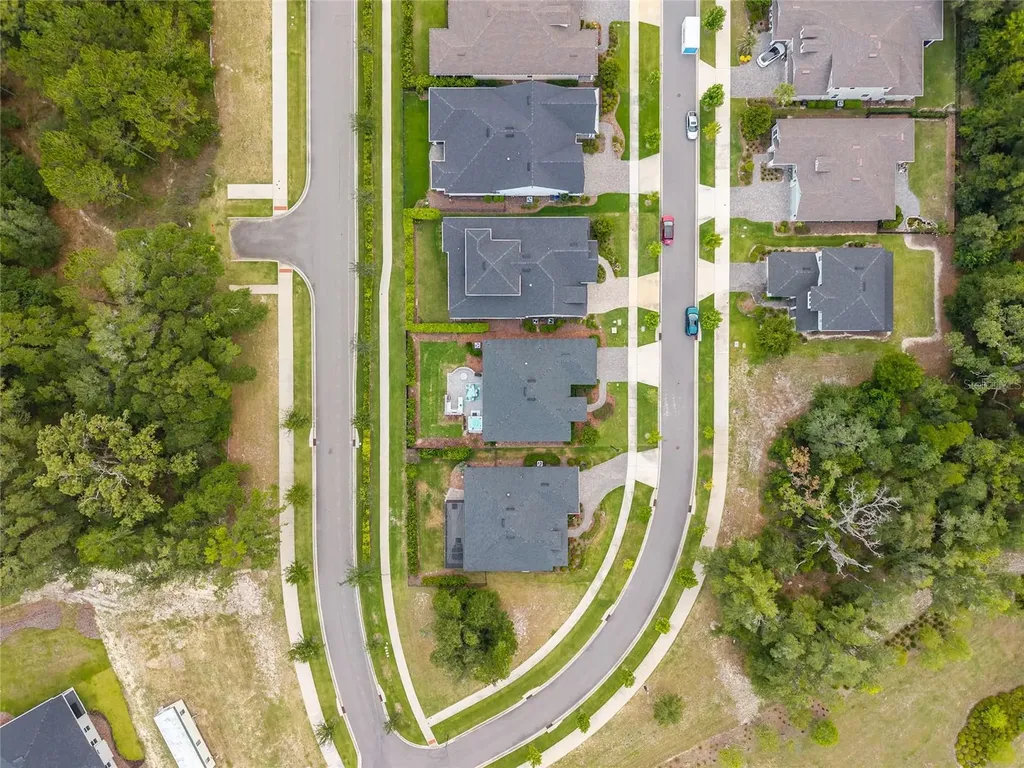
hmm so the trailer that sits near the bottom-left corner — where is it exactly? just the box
[153,700,214,768]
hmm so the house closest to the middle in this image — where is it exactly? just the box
[482,338,597,441]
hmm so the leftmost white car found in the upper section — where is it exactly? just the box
[686,110,700,140]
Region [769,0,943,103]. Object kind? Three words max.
house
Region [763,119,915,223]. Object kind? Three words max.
house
